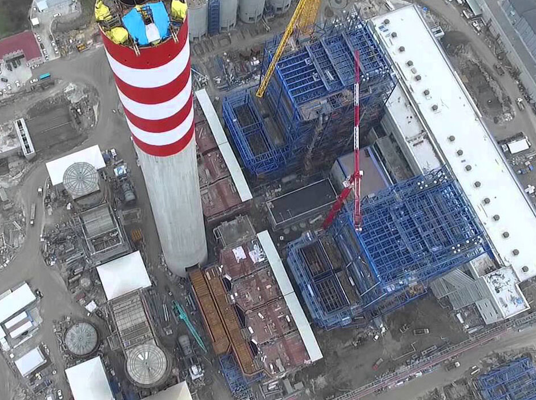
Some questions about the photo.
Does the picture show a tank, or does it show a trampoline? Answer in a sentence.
This aerial view contains a tank.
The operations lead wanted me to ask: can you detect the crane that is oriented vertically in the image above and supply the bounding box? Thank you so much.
[321,50,363,235]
